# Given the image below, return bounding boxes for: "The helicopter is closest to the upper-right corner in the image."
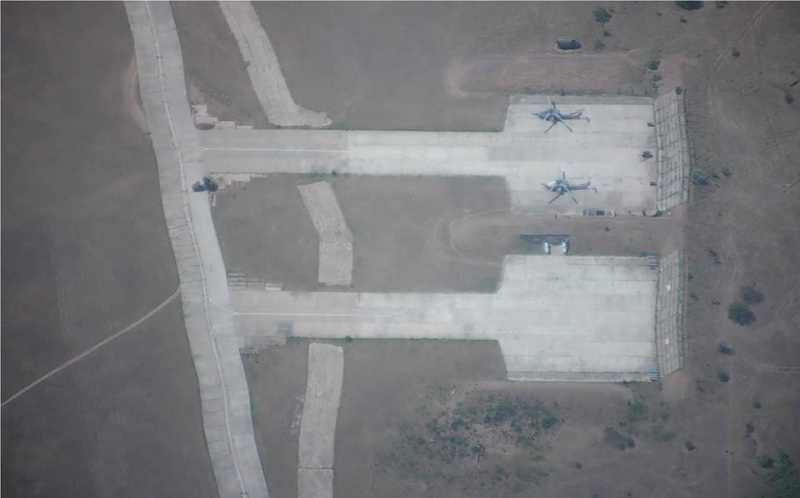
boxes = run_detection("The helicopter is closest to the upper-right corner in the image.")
[529,96,587,127]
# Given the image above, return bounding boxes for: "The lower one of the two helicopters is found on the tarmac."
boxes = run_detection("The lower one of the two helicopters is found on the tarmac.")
[538,167,596,199]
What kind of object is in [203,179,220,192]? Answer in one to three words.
vehicle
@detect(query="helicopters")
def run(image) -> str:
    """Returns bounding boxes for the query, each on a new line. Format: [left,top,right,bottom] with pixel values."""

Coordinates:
[538,167,596,199]
[529,96,587,127]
